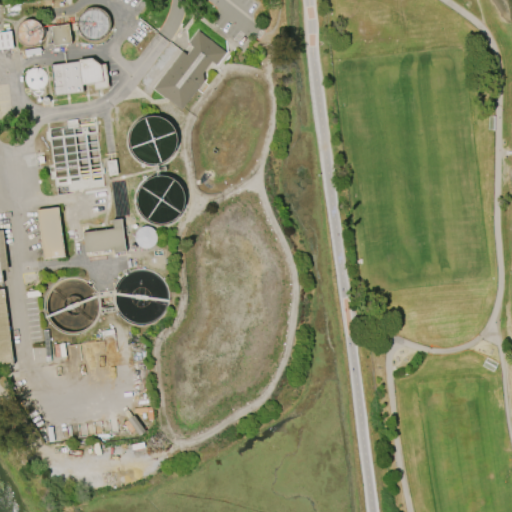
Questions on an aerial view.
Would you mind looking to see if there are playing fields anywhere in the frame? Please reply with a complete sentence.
Yes, a playing field can be made out from above.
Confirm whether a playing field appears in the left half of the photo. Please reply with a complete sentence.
No, I can find no playing field in the left half of the photo.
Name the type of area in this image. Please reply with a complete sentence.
This looks like an industrial area.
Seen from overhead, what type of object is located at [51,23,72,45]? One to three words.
building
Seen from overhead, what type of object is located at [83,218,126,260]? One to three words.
building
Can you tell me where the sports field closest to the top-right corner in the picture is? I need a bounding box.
[337,48,492,290]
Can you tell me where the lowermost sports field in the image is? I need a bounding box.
[400,371,512,512]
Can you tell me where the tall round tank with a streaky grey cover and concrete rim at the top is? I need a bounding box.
[78,6,111,39]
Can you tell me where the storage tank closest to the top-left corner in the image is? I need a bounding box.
[18,18,46,46]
